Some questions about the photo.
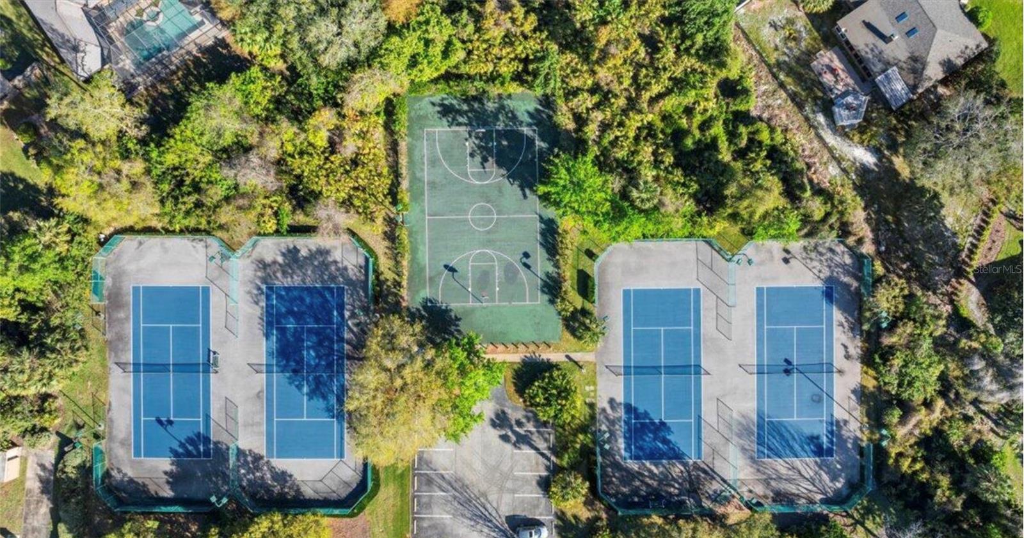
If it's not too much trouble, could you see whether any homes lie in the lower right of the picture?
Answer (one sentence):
No, looking in the lower right of the picture, there is no home.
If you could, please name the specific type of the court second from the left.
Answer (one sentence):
The court second from the left in the image is a tennis court.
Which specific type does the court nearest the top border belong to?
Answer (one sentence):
The court nearest the top border appears to be a basketball court.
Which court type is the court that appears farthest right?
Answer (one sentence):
The court that appears farthest right is a tennis court.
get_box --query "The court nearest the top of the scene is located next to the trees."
[408,92,562,344]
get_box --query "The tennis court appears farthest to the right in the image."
[725,242,862,506]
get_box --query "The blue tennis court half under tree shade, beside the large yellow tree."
[238,239,376,507]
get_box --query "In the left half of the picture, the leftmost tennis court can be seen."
[105,240,237,507]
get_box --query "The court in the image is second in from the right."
[593,242,725,507]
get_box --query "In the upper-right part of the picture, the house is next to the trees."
[833,0,988,95]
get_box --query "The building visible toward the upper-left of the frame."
[24,0,102,80]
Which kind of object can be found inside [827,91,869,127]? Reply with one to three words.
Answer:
gazebo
